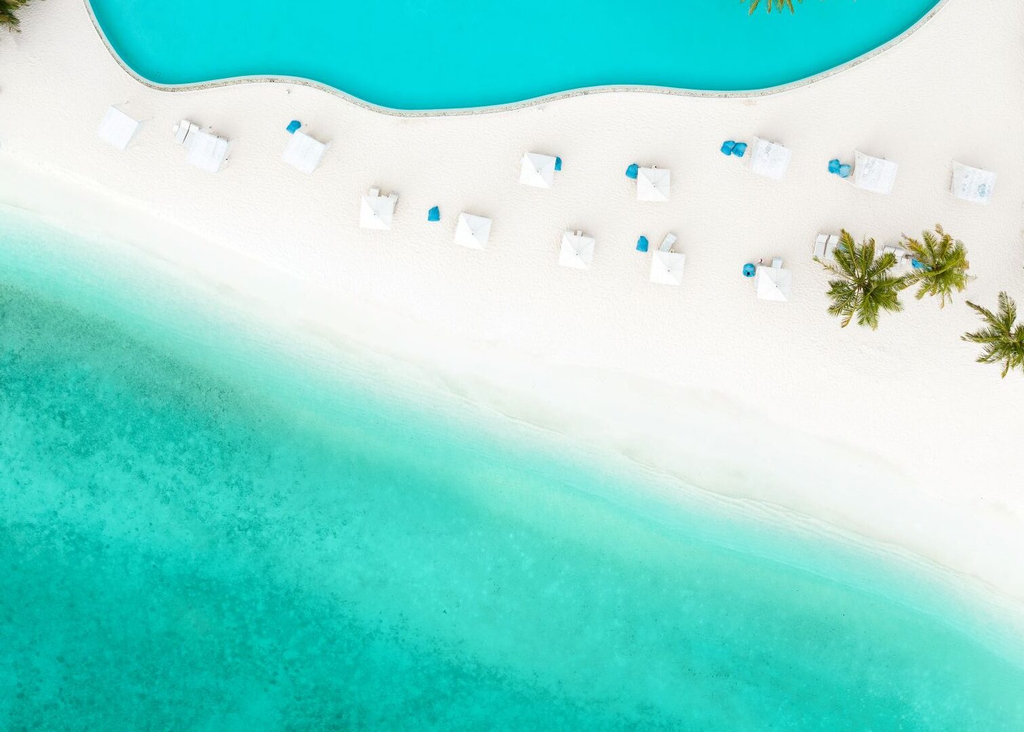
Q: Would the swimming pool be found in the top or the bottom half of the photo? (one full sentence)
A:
The top half of the photo is where the swimming pool is.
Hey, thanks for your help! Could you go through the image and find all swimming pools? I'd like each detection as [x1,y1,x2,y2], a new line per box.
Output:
[81,0,951,117]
